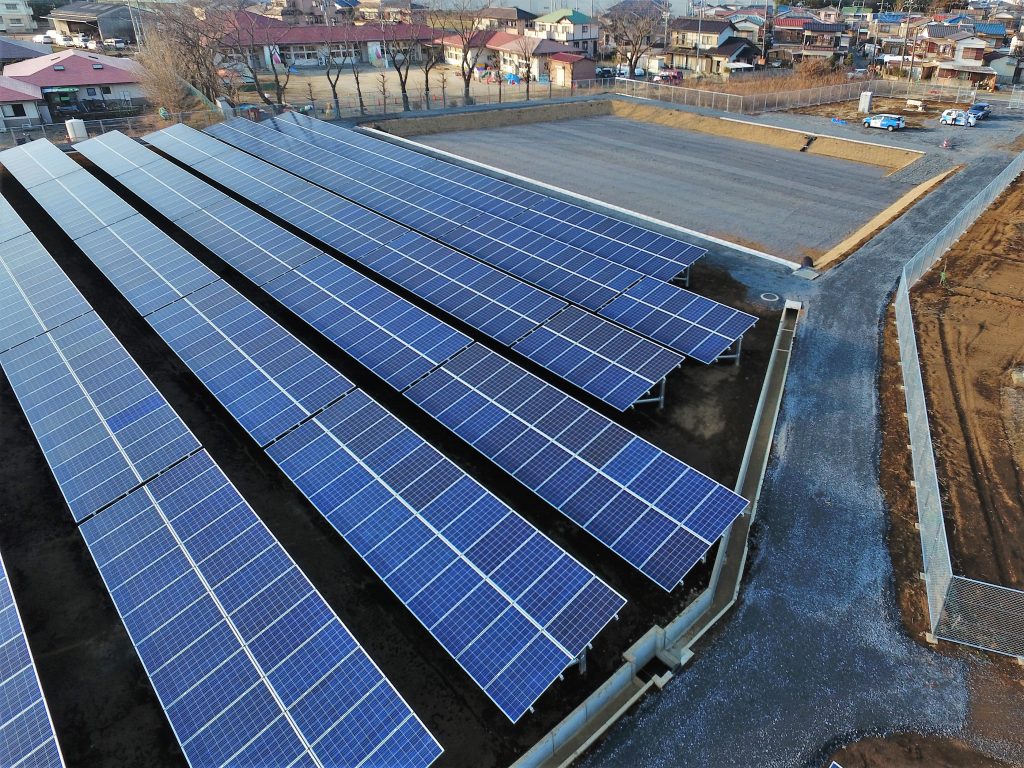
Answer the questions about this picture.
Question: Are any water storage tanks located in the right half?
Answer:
No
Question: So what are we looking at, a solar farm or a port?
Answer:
solar farm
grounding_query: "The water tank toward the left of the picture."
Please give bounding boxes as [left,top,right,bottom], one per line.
[58,115,89,146]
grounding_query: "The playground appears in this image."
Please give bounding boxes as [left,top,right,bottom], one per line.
[231,64,566,119]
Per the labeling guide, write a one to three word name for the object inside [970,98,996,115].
car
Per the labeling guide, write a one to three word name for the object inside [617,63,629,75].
vehicle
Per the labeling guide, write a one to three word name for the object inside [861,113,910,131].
car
